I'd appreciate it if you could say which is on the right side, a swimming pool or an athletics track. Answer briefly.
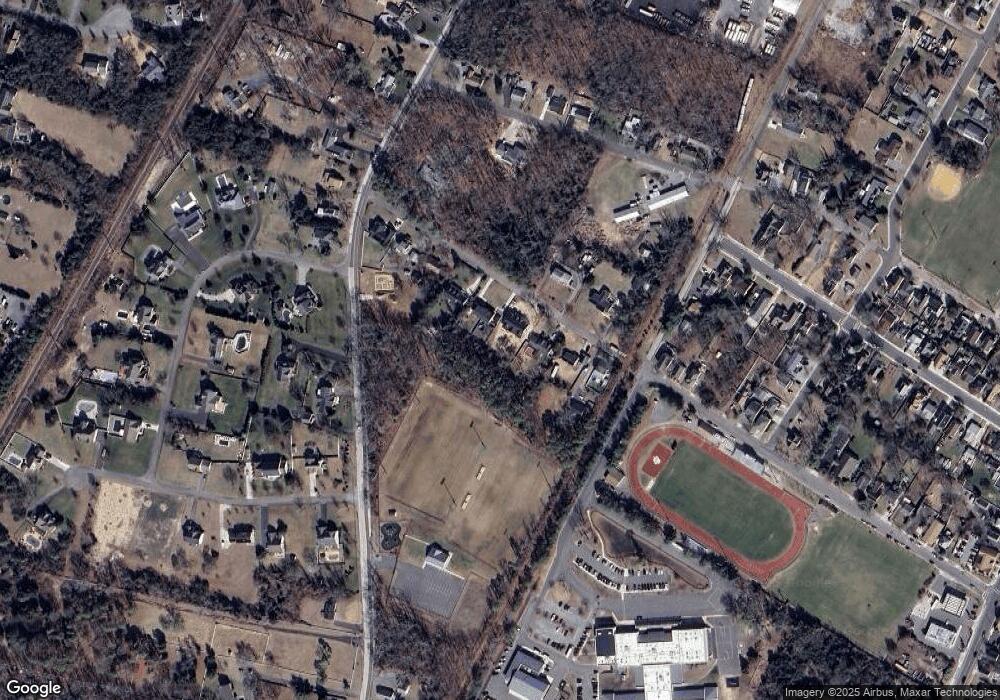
athletics track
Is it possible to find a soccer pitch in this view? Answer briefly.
Yes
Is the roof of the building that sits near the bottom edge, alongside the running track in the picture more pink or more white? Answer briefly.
white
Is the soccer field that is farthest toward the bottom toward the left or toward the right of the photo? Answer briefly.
right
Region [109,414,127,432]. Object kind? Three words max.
swimming pool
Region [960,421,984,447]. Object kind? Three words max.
house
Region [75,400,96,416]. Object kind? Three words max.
swimming pool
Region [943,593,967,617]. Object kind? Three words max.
building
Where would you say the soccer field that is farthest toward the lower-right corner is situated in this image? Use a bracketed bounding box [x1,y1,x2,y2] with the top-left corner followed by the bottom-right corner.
[769,512,937,656]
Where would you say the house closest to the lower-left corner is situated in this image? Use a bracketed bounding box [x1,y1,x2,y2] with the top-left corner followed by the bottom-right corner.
[31,511,57,538]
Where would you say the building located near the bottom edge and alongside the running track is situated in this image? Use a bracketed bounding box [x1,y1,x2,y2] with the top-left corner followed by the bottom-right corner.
[596,622,719,700]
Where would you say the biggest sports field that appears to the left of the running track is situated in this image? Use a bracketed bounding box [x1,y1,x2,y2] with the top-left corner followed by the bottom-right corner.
[379,379,559,571]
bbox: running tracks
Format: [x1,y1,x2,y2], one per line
[622,424,809,583]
